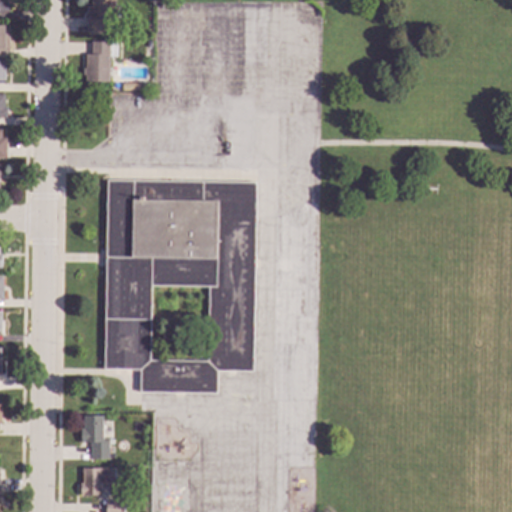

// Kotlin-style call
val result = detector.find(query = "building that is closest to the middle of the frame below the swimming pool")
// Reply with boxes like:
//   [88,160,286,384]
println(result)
[104,180,257,392]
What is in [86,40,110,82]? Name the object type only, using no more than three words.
house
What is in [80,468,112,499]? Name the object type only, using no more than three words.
house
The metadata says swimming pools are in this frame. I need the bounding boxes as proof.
[112,60,150,83]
